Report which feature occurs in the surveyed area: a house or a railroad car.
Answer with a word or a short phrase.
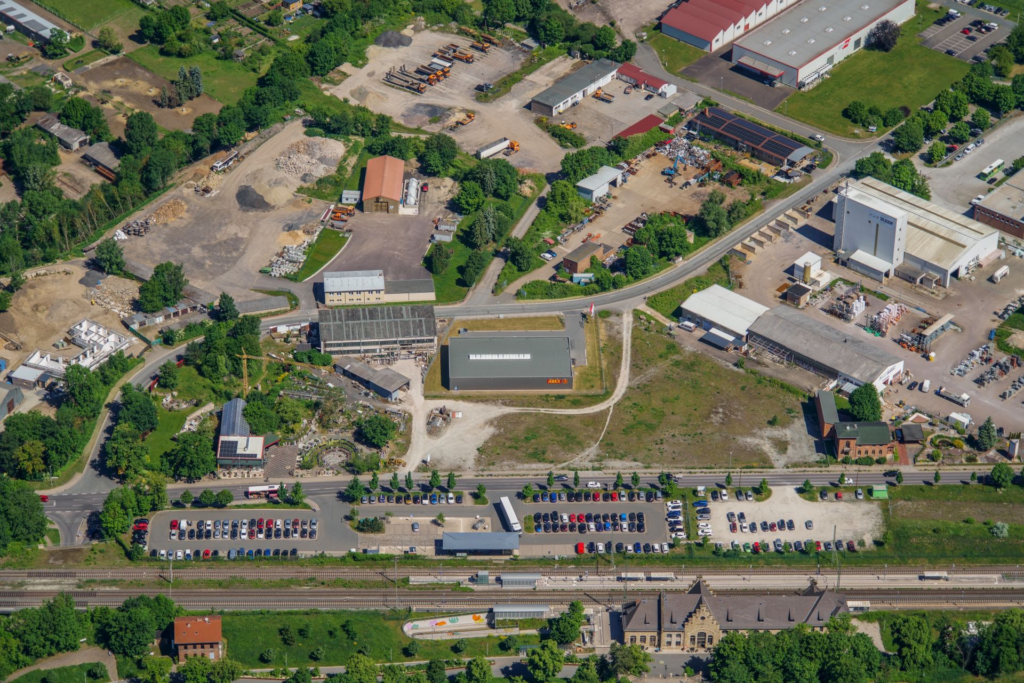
house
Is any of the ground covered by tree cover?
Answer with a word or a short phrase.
Yes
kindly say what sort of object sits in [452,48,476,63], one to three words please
vehicle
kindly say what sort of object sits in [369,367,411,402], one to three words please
shed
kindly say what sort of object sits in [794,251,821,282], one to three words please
building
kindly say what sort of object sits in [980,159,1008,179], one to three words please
bus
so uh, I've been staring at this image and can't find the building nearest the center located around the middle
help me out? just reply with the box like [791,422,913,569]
[440,336,582,391]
